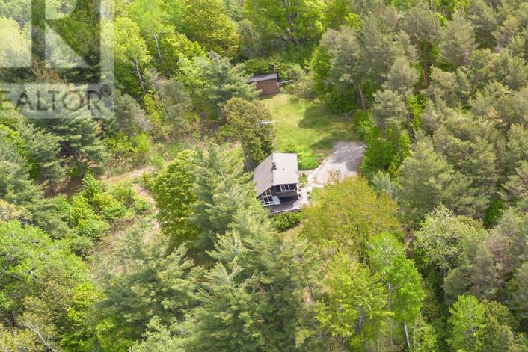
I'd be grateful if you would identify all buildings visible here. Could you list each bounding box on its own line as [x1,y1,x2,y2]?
[253,152,305,216]
[246,70,282,98]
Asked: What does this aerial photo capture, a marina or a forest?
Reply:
forest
